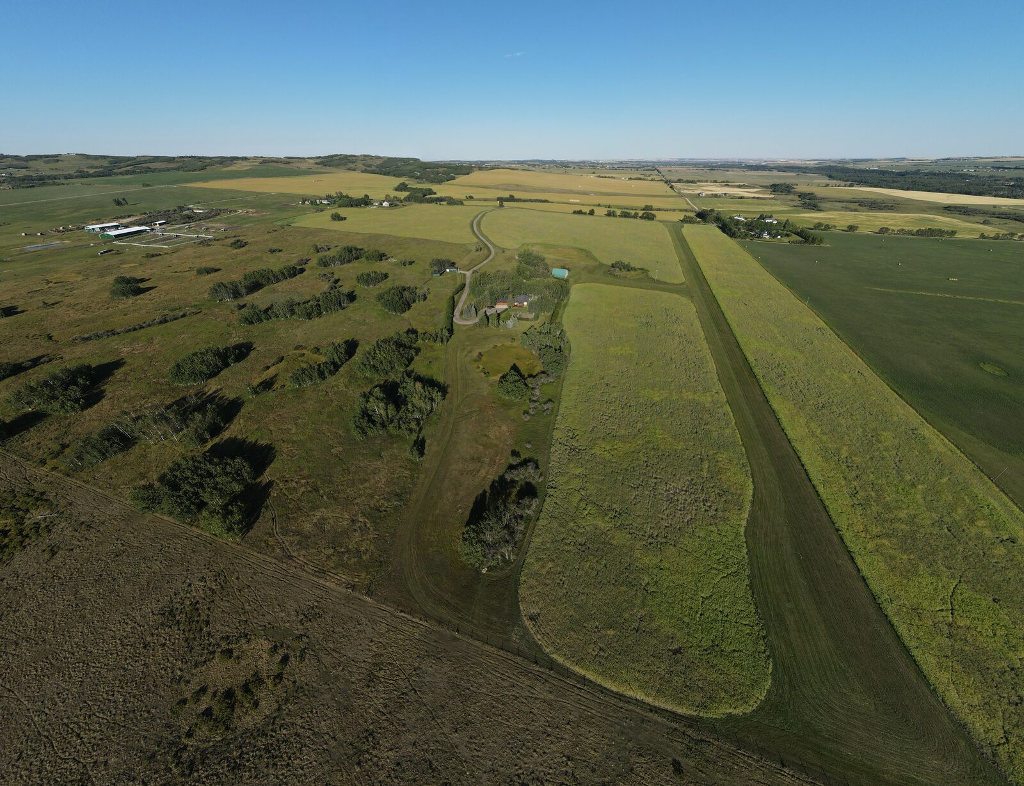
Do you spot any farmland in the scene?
Yes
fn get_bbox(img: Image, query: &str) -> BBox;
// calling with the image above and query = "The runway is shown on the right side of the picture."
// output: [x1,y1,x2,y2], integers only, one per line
[670,224,1008,786]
